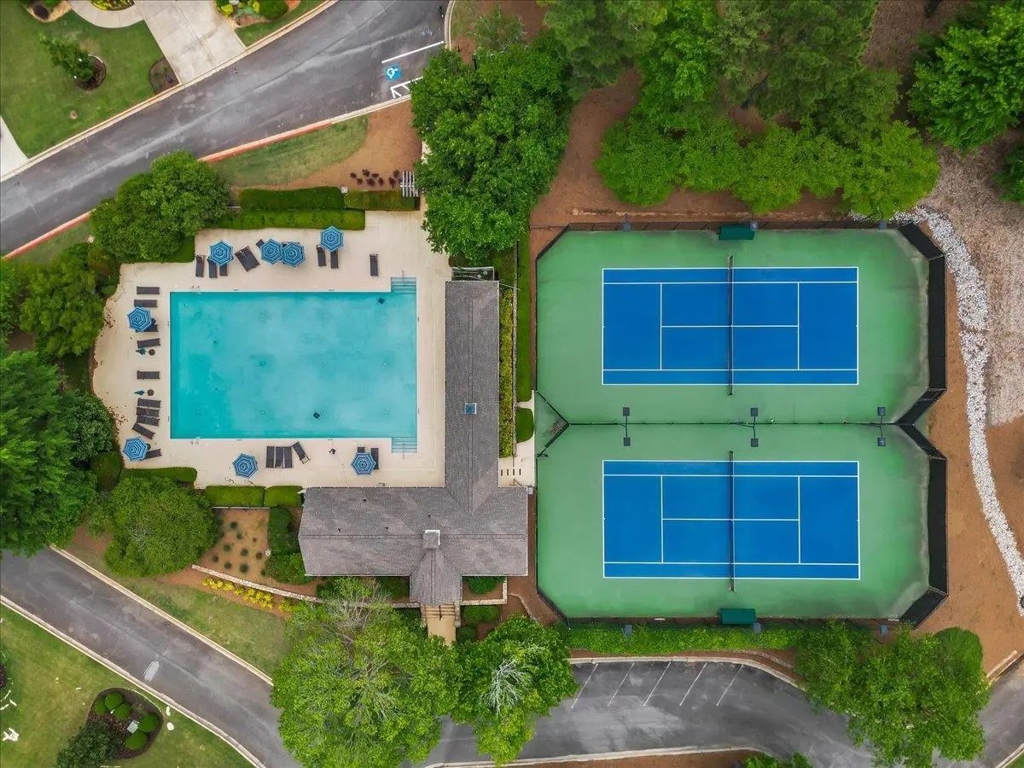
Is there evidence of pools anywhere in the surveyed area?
Yes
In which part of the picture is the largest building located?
center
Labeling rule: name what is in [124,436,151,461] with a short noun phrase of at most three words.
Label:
umbrella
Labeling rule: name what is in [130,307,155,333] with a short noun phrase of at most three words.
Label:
umbrella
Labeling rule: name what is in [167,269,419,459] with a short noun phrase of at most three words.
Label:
swimming pool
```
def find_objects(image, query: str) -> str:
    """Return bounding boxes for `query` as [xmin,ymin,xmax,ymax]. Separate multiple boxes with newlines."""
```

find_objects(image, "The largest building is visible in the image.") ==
[296,280,529,607]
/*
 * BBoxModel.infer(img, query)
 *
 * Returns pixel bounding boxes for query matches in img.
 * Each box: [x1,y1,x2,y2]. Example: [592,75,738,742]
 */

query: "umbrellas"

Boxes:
[139,347,157,356]
[282,241,306,266]
[138,389,156,397]
[351,452,377,475]
[259,239,282,264]
[130,307,155,333]
[210,240,233,266]
[321,227,344,252]
[234,453,258,478]
[124,436,151,461]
